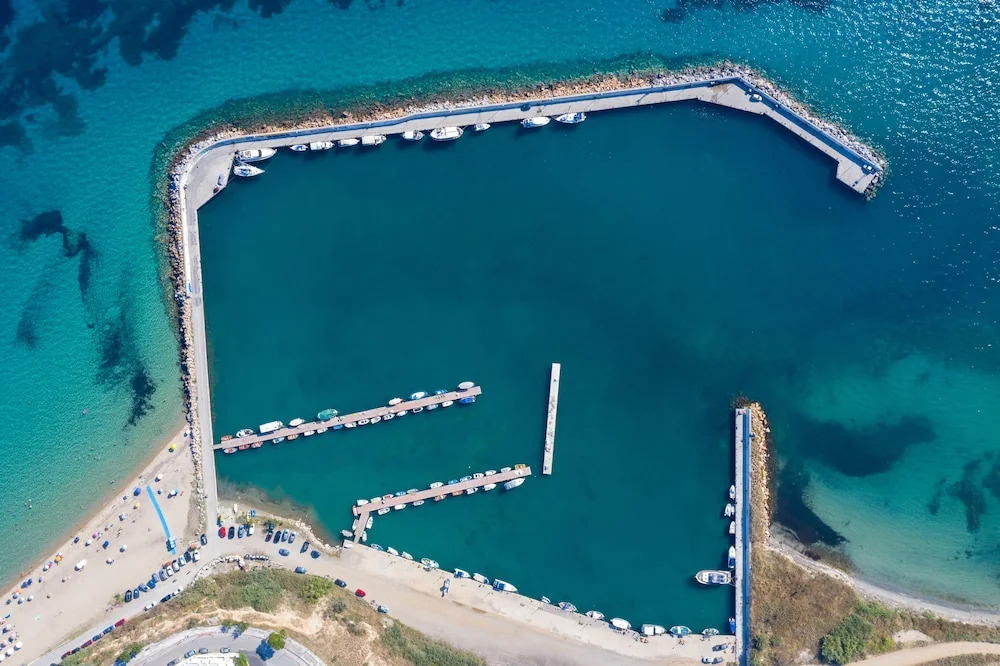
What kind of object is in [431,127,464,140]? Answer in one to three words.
boat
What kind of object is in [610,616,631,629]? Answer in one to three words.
boat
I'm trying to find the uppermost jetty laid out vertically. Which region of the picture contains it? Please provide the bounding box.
[543,363,561,475]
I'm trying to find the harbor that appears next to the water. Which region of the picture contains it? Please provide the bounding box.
[180,77,882,666]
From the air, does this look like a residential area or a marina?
marina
